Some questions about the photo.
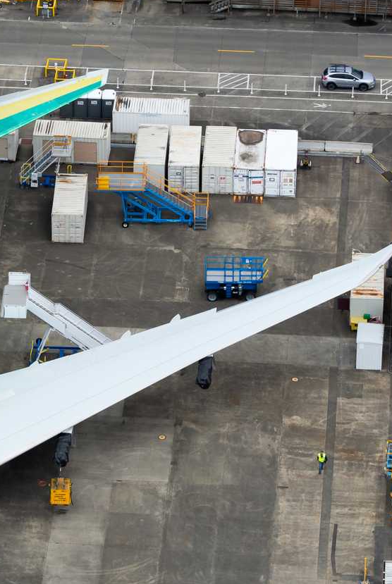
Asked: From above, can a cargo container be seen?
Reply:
Yes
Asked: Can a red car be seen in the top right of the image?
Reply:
No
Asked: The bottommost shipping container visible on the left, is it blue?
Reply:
No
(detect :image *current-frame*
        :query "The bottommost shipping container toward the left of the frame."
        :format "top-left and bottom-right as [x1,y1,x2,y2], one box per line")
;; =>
[51,173,91,243]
